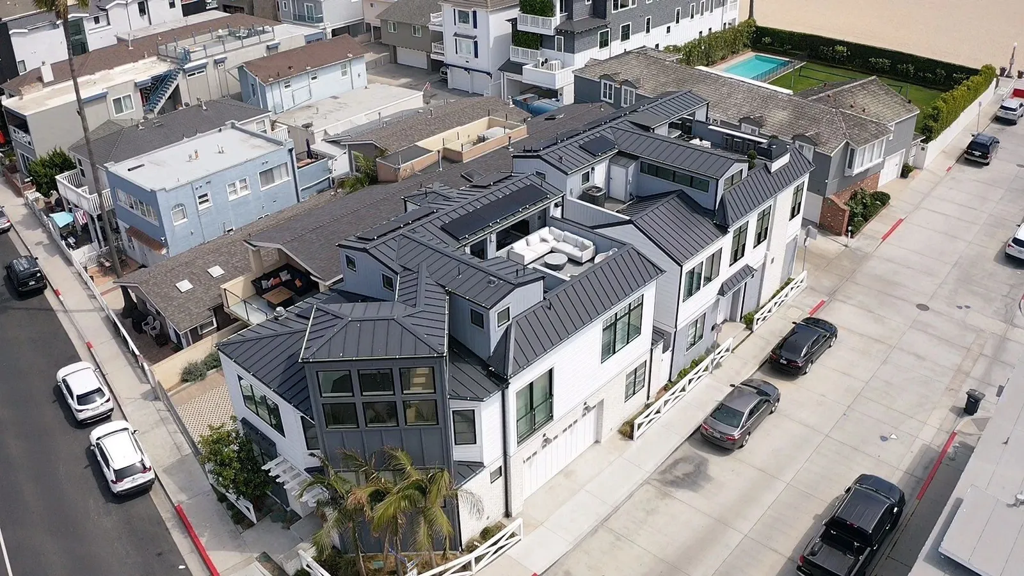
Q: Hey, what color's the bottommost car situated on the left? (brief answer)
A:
white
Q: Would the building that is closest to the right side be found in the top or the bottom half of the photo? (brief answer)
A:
bottom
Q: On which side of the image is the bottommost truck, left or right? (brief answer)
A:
right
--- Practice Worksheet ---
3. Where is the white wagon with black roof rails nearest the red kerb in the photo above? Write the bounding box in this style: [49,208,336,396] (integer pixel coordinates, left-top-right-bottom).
[82,417,157,497]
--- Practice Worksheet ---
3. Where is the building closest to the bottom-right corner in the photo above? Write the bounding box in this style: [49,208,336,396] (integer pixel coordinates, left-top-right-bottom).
[910,387,1024,576]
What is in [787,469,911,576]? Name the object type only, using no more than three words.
truck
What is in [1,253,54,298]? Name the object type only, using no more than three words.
car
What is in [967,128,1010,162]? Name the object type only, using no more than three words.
car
